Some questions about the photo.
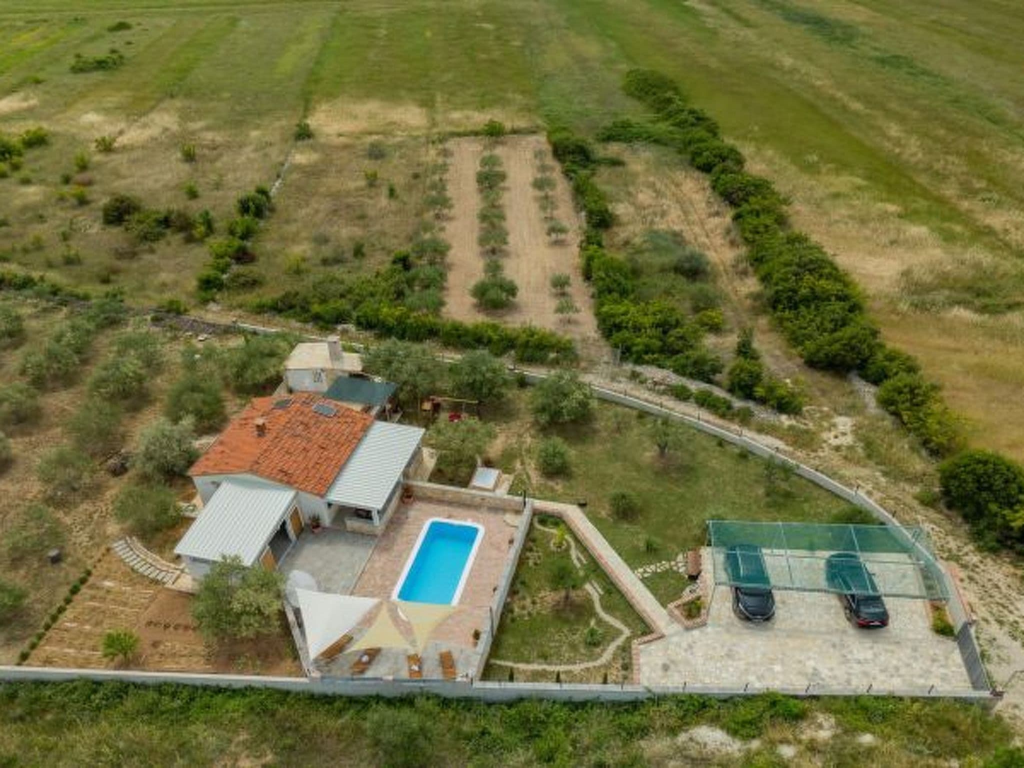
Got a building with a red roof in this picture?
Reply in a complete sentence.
Yes, the image includes a building with a red roof.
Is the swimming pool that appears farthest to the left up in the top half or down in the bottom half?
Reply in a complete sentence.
You can find the swimming pool that appears farthest to the left in the bottom half.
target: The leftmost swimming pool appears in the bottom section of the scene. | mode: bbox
[392,517,479,609]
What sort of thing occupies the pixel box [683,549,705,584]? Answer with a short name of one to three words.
building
